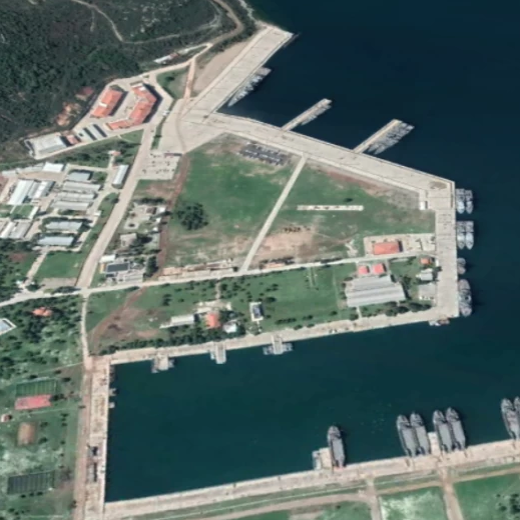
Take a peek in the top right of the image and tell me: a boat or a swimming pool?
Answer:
boat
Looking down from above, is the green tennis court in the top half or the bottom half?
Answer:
bottom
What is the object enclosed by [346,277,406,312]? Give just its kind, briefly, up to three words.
building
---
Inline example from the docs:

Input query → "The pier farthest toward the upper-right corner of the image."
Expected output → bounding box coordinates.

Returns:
[354,119,401,153]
